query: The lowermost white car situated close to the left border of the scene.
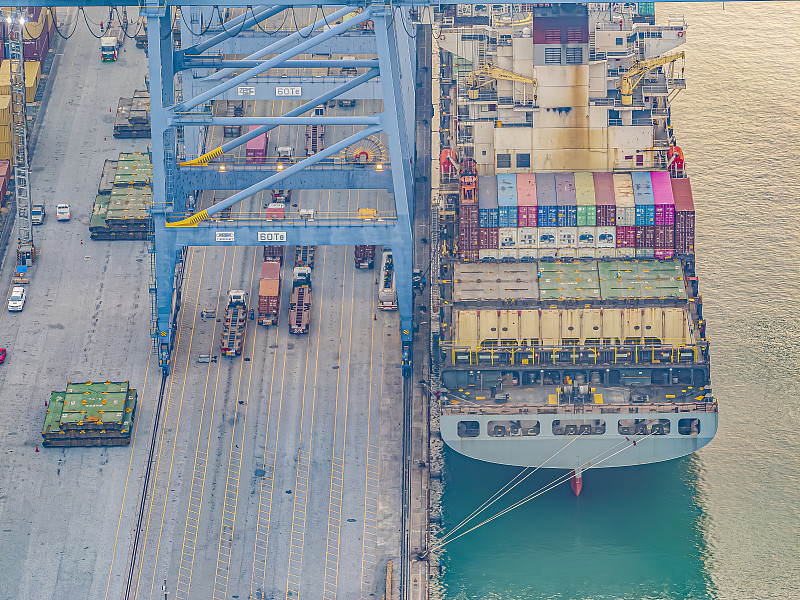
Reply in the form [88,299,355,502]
[7,290,24,310]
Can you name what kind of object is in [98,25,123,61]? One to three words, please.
truck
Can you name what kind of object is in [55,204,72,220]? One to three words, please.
car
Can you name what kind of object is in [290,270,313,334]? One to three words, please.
truck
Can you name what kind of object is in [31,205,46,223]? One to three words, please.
car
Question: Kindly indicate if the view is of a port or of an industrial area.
port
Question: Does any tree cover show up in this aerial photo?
No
